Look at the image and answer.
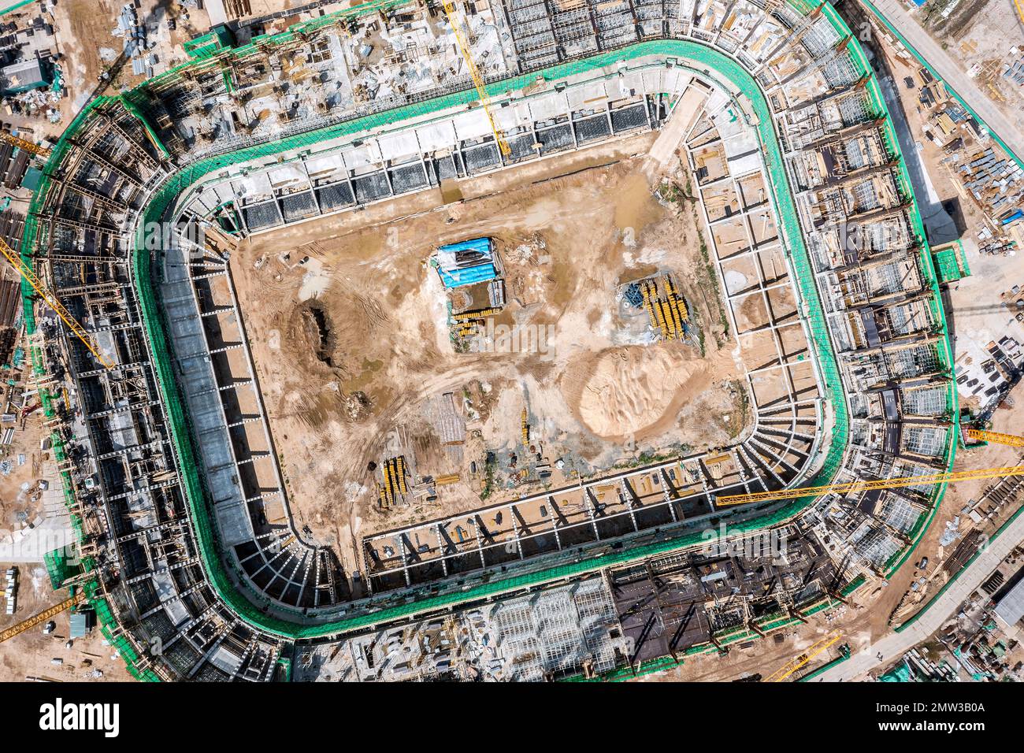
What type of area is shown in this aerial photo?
sports ground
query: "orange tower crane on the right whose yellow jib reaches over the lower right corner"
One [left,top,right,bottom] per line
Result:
[713,421,1024,506]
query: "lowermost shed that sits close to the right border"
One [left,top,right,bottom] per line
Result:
[986,568,1024,626]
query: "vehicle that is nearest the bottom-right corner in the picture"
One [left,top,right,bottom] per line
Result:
[918,555,930,572]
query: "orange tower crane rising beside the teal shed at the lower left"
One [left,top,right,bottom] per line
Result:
[0,584,94,655]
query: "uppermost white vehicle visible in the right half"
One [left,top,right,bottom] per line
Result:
[1001,336,1024,356]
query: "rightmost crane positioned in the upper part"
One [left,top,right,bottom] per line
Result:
[442,0,510,156]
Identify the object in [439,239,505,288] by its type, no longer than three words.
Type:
building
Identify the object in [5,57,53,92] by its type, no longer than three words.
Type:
shed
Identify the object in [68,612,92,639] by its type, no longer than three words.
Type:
shed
